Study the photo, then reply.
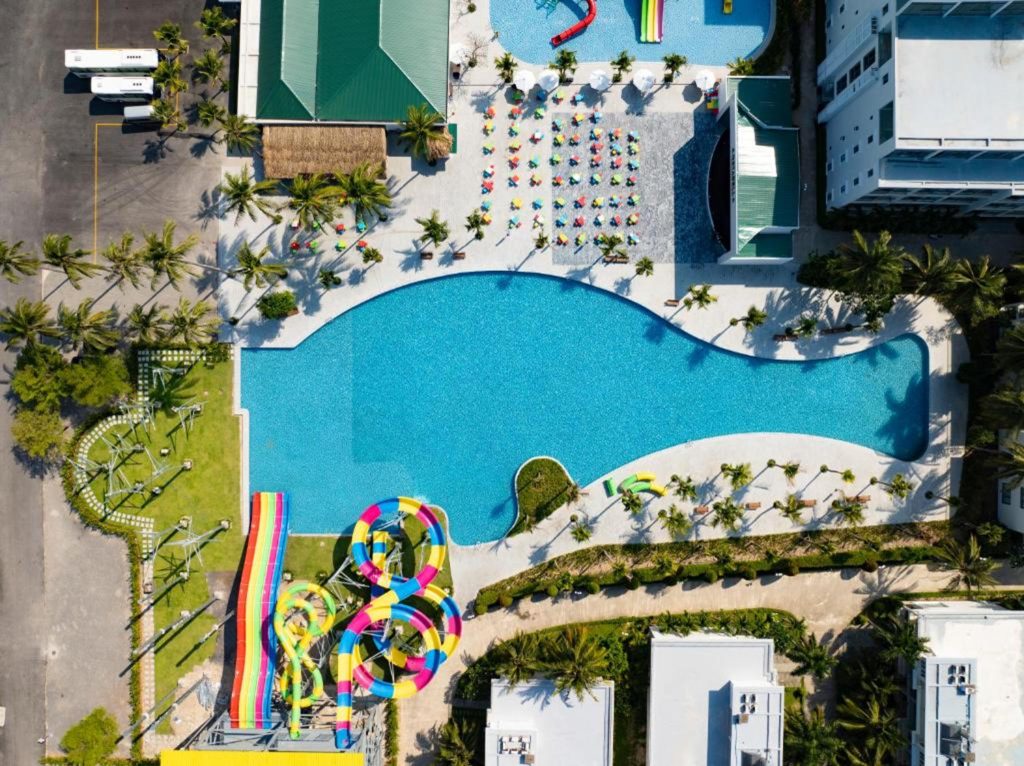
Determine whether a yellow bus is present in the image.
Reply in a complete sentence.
No, no yellow bus is visible in the view.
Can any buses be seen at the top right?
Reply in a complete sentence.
No, looking at the top right, there is no bus.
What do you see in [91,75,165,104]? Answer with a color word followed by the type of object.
white bus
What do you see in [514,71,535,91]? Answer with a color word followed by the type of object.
white umbrella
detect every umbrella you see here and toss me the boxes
[514,71,535,91]
[589,70,608,90]
[634,71,654,91]
[696,70,716,90]
[538,70,558,90]
[449,44,468,65]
